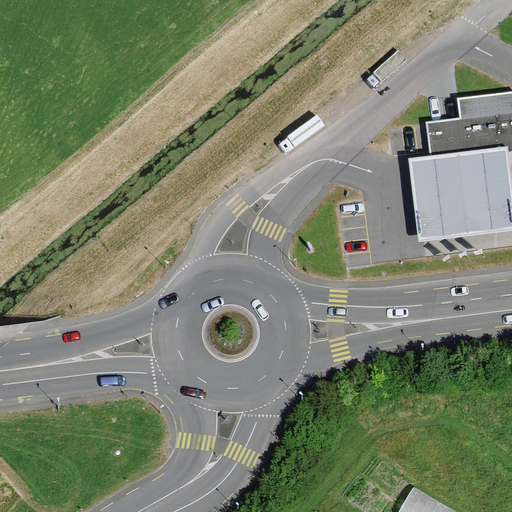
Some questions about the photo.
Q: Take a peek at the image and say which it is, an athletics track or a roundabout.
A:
roundabout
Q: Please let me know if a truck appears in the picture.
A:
Yes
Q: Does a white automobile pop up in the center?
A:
Yes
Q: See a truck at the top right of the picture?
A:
Yes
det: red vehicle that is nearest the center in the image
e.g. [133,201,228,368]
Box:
[344,241,367,253]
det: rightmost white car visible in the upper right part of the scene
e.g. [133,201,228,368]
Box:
[429,96,442,121]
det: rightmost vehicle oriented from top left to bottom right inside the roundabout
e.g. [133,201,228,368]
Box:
[252,300,269,322]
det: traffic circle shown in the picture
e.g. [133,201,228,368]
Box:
[112,200,362,462]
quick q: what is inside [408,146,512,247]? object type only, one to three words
building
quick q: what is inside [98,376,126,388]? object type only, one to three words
vehicle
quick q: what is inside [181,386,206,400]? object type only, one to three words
vehicle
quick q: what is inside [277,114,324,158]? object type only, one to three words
truck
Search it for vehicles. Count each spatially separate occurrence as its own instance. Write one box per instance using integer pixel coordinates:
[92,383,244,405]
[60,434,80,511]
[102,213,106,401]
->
[277,114,324,158]
[403,126,415,152]
[158,293,180,309]
[429,96,442,121]
[450,286,469,297]
[252,300,269,322]
[98,376,126,388]
[386,308,408,319]
[340,202,364,218]
[202,297,224,312]
[328,306,348,317]
[366,52,406,91]
[62,332,81,342]
[445,98,456,120]
[502,314,512,325]
[181,386,206,400]
[344,241,367,253]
